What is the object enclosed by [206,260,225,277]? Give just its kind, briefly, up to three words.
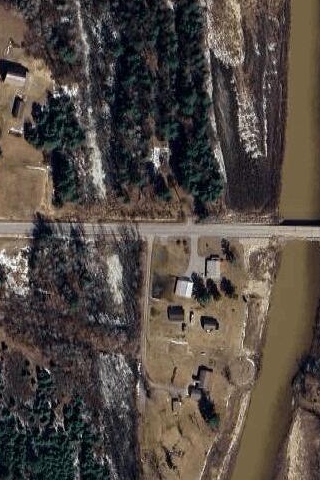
house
